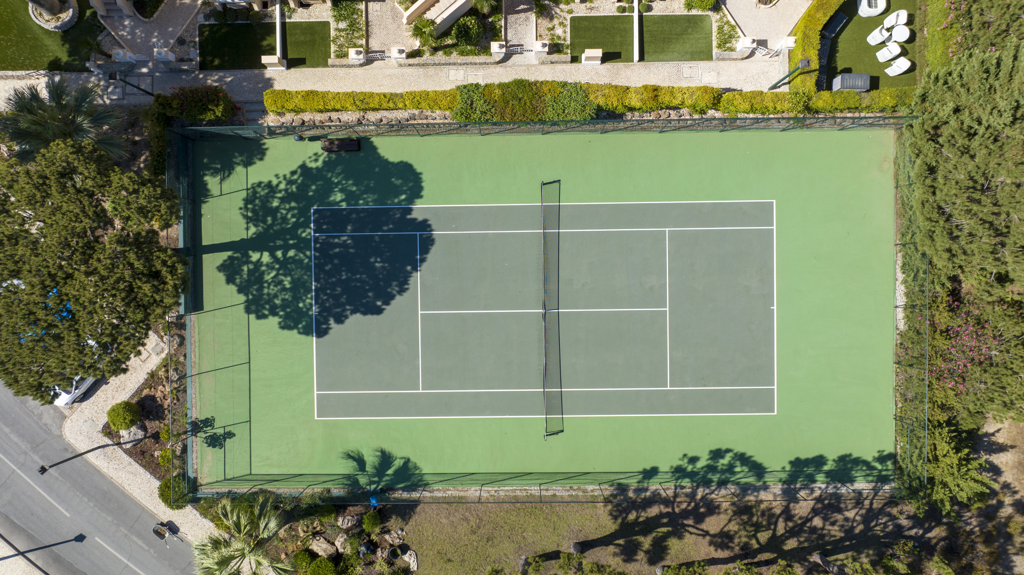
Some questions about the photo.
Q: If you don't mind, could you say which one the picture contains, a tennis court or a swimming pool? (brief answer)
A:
tennis court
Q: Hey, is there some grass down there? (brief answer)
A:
Yes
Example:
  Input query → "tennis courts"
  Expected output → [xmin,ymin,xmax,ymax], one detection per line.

[194,130,895,487]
